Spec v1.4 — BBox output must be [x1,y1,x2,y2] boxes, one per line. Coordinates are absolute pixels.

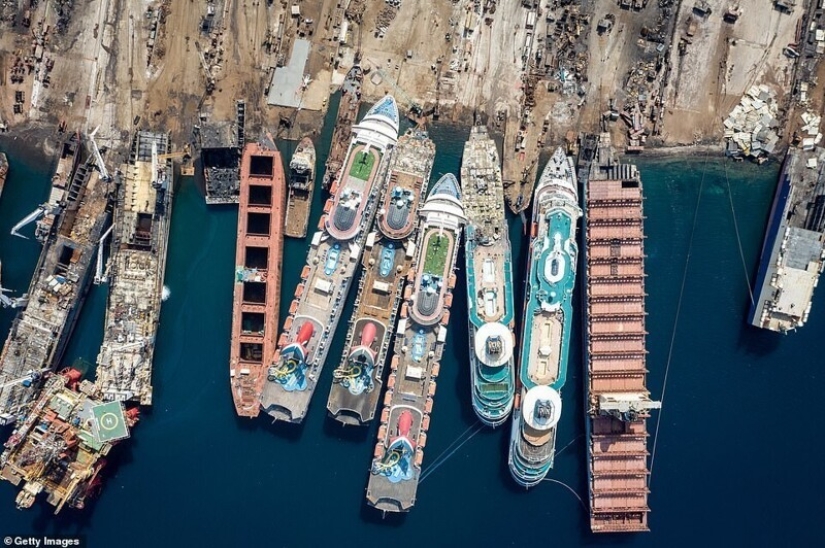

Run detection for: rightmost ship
[748,147,825,332]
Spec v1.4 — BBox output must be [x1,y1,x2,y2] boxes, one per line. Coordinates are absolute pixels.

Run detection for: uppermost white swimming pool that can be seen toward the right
[545,249,567,283]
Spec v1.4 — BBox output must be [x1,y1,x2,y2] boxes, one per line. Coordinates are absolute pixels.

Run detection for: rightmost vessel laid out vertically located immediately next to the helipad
[93,131,173,405]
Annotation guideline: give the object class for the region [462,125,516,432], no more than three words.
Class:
ship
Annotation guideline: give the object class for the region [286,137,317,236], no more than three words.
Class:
vessel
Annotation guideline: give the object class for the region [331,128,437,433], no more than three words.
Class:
ship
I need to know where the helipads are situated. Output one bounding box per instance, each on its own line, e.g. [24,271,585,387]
[90,398,137,445]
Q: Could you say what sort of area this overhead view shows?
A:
port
